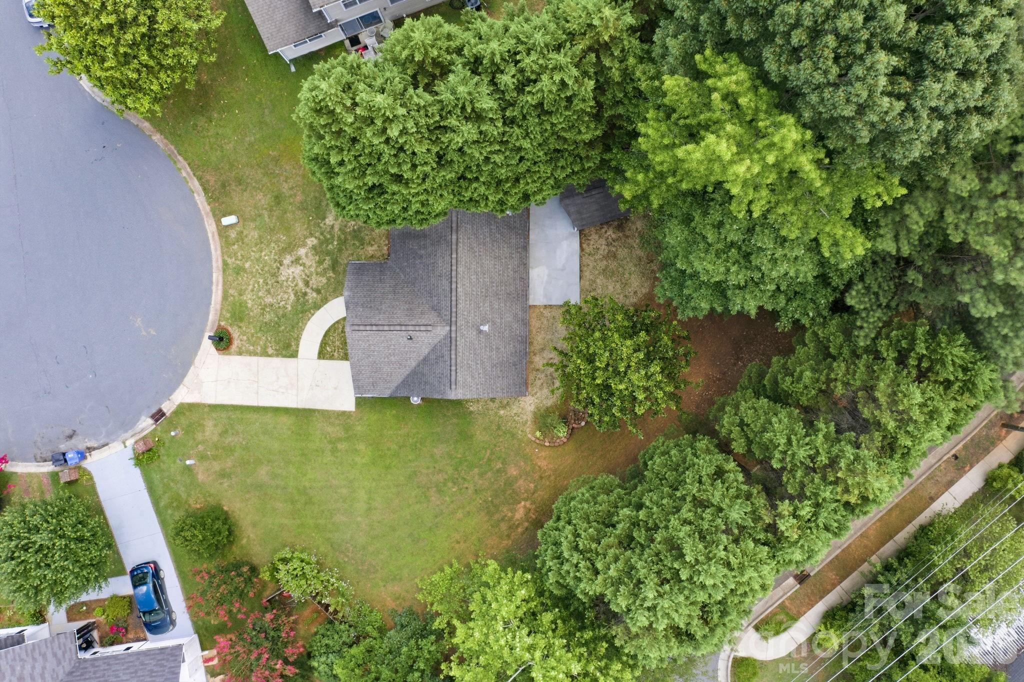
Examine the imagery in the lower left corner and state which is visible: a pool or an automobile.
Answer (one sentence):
You can see an automobile in the lower left corner.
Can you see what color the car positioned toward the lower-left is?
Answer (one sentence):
From above, the car positioned toward the lower-left appears blue.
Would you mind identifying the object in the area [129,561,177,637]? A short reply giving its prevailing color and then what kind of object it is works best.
blue car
